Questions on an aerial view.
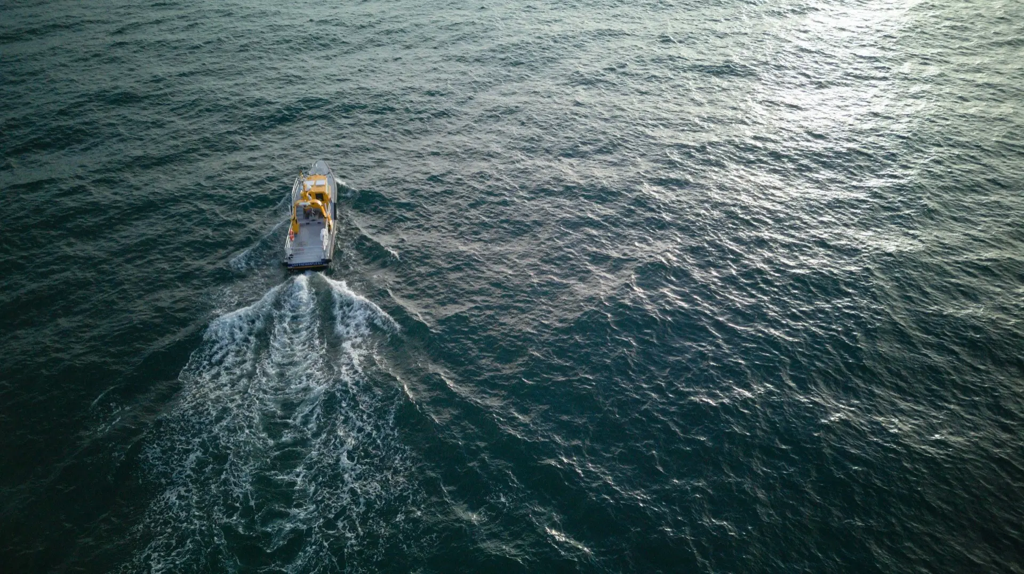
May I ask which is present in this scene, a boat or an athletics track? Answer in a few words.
boat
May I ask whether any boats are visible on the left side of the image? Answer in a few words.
Yes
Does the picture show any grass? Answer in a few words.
No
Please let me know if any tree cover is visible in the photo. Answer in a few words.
No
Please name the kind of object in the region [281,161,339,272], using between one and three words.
boat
